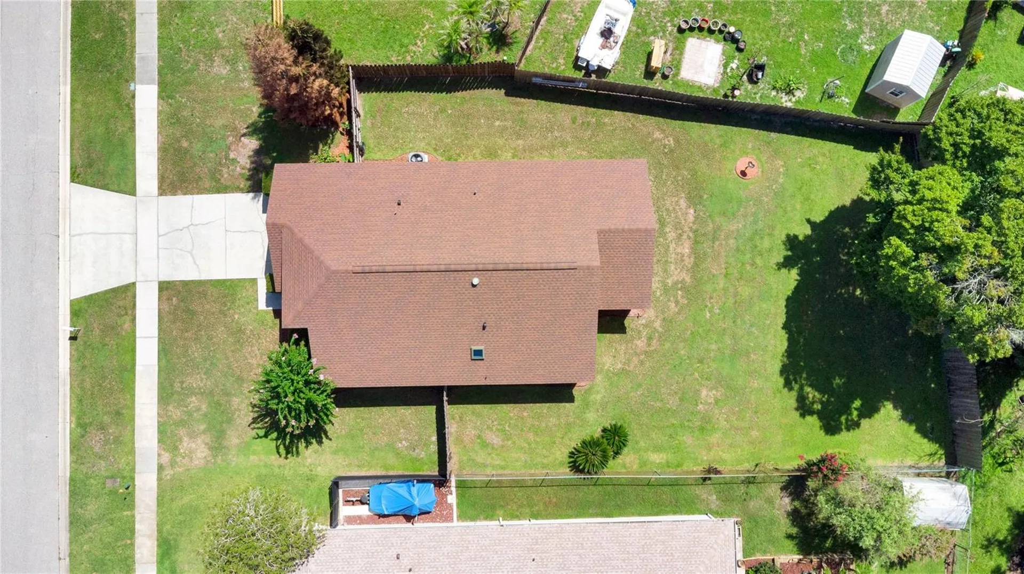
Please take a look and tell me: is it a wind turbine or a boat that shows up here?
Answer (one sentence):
This aerial view contains a boat.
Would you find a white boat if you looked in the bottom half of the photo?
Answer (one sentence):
No, the scene shows no white boat in the bottom half of the photo.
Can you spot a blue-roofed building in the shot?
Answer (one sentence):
No, I find no blue-roofed building anywhere in the image.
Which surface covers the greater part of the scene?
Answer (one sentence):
What you mostly see from above here is grass.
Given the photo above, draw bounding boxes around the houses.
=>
[292,515,744,574]
[265,159,657,388]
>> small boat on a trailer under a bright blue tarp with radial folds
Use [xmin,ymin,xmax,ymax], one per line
[348,481,439,521]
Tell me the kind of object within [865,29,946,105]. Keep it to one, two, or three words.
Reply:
shed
